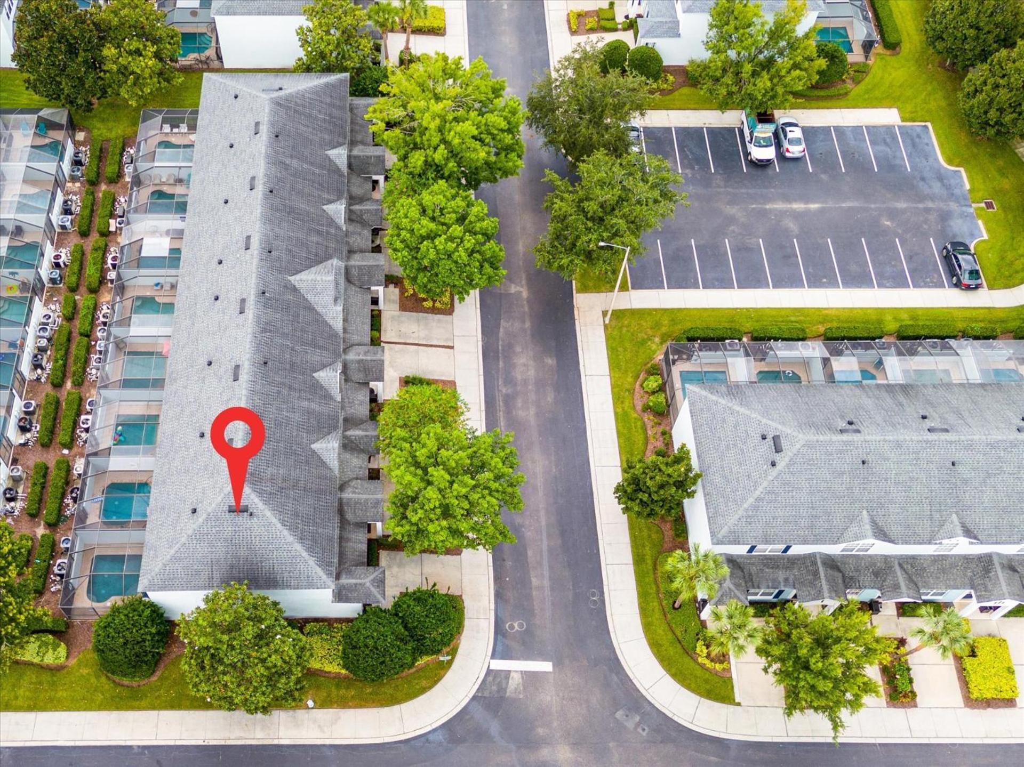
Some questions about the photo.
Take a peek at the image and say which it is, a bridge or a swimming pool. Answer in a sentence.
Looking from above, you can make out a swimming pool.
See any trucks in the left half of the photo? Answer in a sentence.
No, in the left half of the photo there is no truck.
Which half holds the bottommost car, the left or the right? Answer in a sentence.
The bottommost car sits on the right side.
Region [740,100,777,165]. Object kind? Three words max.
truck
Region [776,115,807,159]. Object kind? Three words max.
car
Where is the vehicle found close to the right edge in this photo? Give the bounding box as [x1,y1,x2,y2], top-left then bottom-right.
[941,240,980,291]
